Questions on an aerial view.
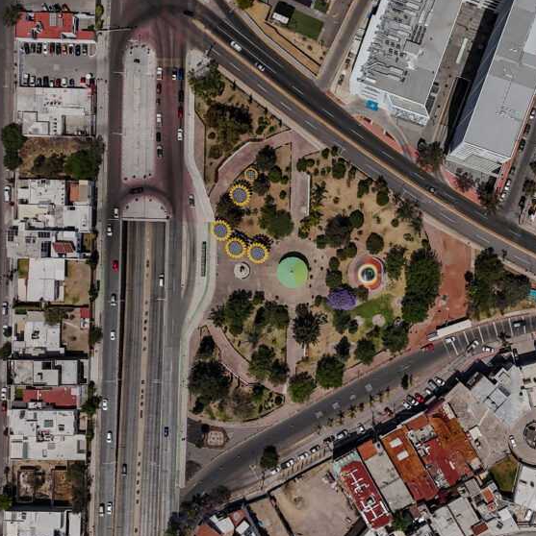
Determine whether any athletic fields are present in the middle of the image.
No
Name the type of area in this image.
residential area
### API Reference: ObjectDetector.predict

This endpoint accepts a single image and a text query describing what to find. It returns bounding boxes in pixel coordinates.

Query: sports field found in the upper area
[287,11,324,41]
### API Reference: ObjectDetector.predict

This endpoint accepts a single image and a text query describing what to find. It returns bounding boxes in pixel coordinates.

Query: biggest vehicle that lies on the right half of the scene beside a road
[433,319,468,338]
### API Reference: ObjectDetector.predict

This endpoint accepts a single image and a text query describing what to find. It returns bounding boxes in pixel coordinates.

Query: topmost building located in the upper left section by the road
[15,12,100,45]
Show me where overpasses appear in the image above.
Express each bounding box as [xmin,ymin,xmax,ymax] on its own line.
[120,194,171,219]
